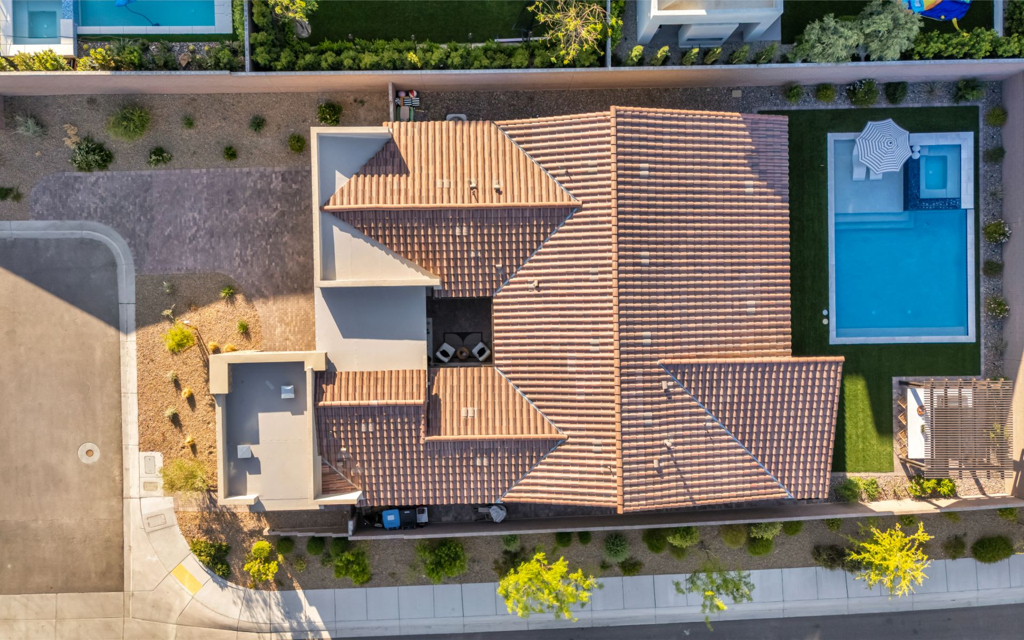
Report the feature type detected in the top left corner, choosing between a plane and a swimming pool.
swimming pool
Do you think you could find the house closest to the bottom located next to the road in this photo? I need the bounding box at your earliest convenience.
[210,103,848,517]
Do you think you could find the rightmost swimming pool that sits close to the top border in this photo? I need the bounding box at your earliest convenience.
[78,0,233,33]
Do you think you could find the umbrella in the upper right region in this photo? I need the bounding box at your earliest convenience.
[857,118,912,175]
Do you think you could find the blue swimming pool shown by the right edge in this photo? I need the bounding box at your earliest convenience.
[828,132,977,344]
